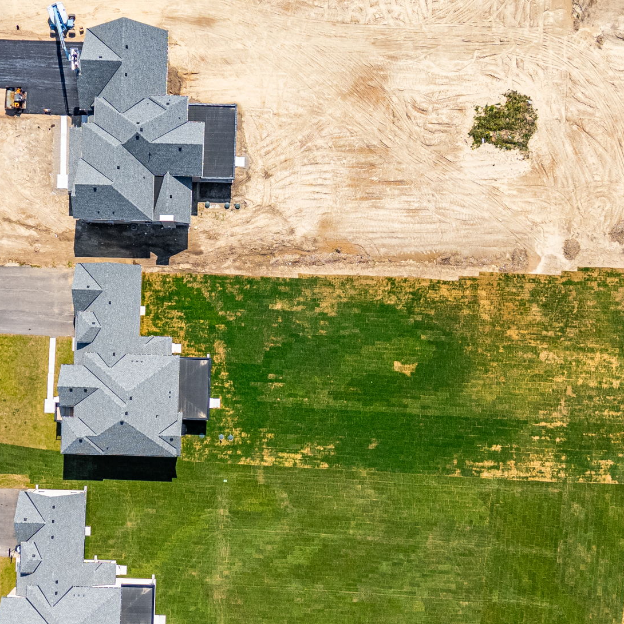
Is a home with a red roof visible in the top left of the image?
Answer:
No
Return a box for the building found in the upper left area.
[68,16,245,232]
